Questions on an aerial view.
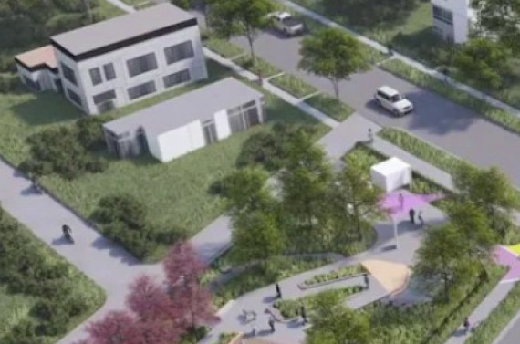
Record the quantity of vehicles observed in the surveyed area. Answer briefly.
2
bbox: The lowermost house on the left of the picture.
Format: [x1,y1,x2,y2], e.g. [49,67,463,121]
[104,77,268,163]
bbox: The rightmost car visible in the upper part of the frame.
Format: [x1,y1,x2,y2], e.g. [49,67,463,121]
[373,83,414,113]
